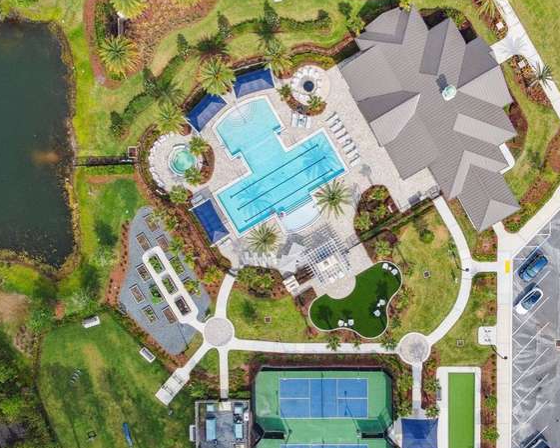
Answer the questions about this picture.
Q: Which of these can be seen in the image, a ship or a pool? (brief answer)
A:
pool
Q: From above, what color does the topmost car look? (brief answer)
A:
blue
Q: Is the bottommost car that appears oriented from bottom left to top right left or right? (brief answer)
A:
right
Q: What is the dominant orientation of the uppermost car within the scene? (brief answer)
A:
diagonally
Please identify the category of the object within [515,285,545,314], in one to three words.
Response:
car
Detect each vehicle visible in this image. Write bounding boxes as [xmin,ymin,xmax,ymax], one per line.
[520,253,551,282]
[532,439,551,448]
[515,285,545,314]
